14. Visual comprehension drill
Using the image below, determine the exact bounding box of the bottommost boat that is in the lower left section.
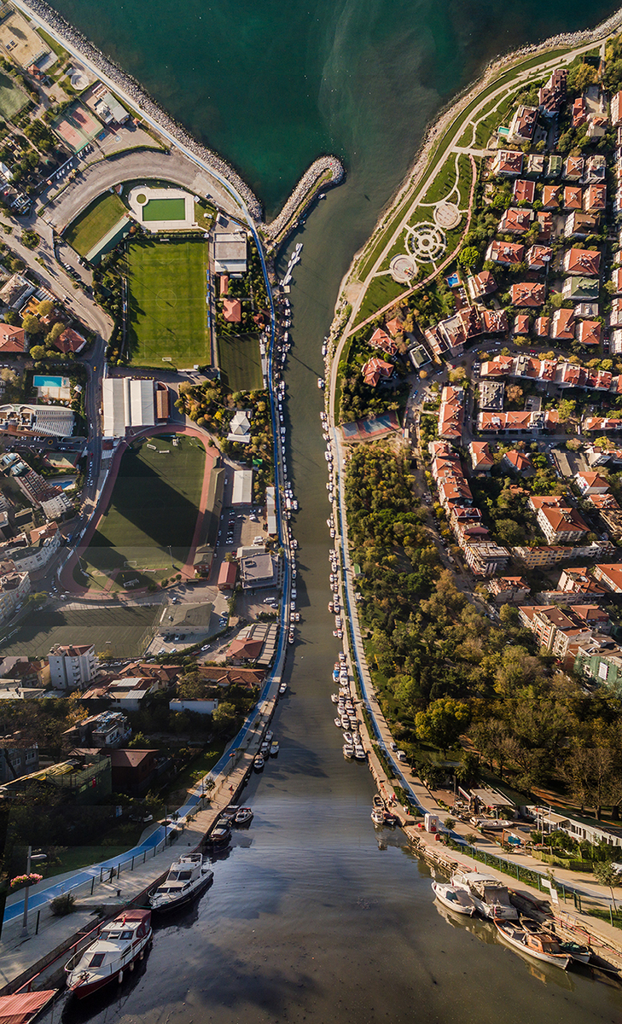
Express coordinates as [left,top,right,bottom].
[71,913,162,1009]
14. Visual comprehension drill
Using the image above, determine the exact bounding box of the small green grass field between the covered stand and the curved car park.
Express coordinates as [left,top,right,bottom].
[62,192,127,257]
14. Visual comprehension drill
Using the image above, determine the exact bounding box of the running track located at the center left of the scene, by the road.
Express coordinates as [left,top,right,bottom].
[60,425,220,595]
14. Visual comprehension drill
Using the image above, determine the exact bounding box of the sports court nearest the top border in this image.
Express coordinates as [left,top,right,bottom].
[0,8,49,67]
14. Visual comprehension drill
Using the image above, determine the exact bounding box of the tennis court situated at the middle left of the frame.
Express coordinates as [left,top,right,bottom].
[42,452,81,468]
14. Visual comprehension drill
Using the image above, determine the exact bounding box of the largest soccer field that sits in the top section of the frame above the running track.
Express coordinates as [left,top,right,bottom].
[126,240,211,370]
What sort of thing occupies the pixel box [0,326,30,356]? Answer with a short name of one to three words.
house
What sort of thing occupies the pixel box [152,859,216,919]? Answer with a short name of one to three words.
boat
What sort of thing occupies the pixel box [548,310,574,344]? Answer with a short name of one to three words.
building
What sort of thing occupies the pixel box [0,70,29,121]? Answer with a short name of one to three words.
sports court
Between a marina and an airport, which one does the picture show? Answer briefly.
marina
